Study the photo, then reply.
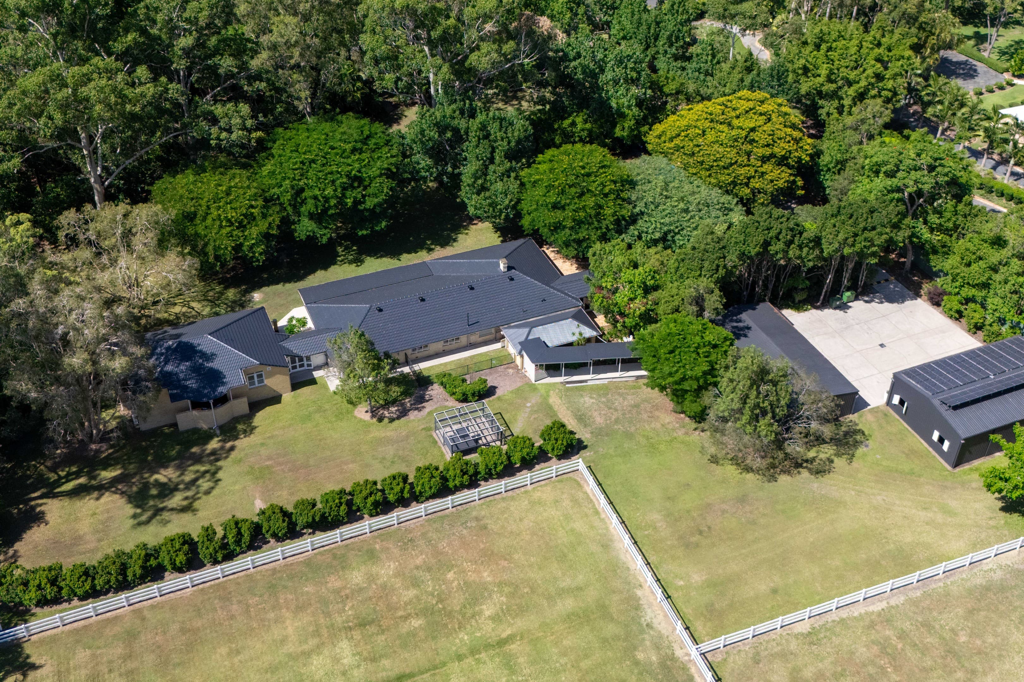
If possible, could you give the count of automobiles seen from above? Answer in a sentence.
The count of automobiles is 0.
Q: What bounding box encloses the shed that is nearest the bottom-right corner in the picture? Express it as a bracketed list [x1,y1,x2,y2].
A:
[886,334,1024,468]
